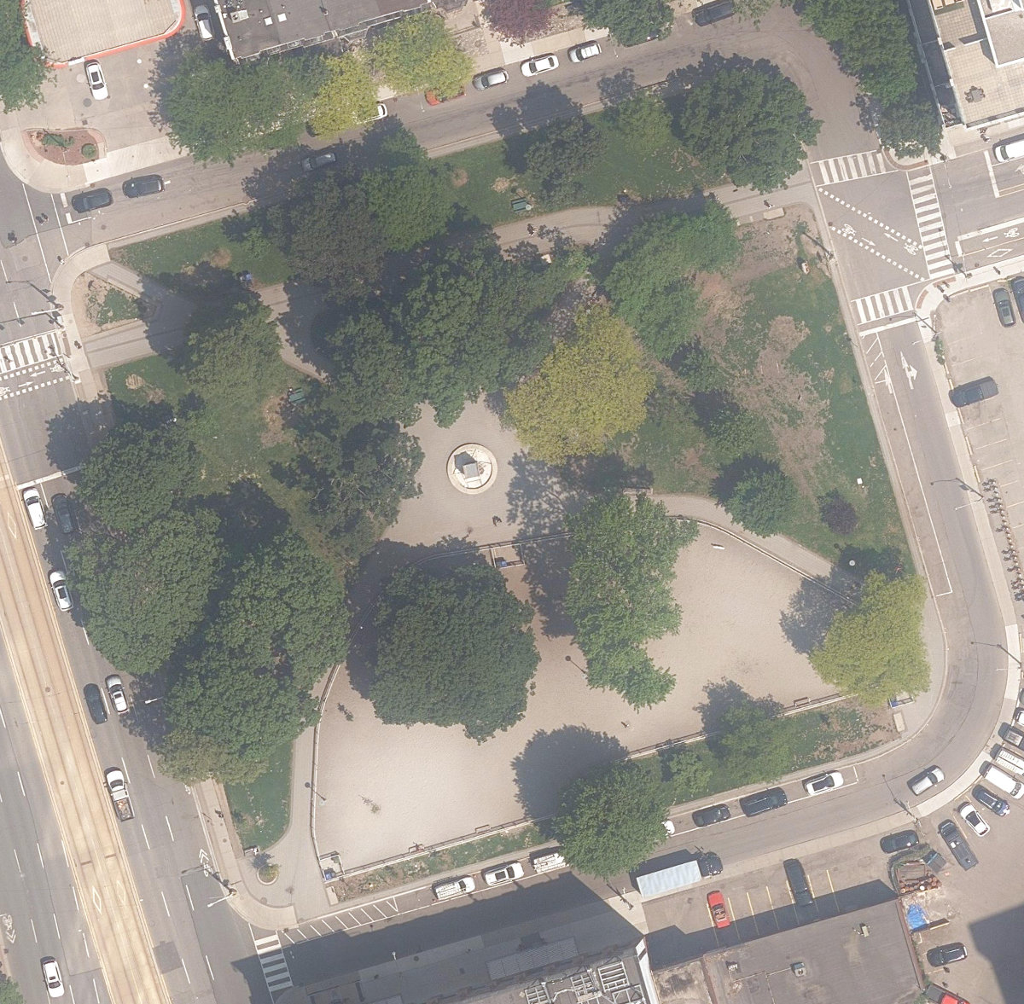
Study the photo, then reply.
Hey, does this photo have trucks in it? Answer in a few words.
Yes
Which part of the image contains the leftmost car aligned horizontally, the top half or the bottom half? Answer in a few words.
top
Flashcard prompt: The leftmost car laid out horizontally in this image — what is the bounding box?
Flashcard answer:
[71,188,114,212]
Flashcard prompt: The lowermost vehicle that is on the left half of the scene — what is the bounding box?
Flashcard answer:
[40,956,64,998]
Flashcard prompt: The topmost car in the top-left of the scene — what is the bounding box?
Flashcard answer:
[193,4,215,41]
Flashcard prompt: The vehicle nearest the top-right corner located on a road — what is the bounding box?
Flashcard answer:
[993,138,1024,161]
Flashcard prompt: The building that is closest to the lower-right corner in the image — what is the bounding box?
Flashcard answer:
[702,895,928,1004]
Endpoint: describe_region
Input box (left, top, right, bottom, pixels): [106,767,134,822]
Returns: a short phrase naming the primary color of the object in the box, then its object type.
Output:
white truck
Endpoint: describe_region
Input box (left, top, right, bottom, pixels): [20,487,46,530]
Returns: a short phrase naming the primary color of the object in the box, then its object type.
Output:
white car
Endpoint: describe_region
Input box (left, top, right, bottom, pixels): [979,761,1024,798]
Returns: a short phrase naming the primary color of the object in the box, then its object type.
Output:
white van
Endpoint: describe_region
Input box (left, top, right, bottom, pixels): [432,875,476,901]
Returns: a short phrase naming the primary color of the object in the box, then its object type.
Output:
white vehicle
